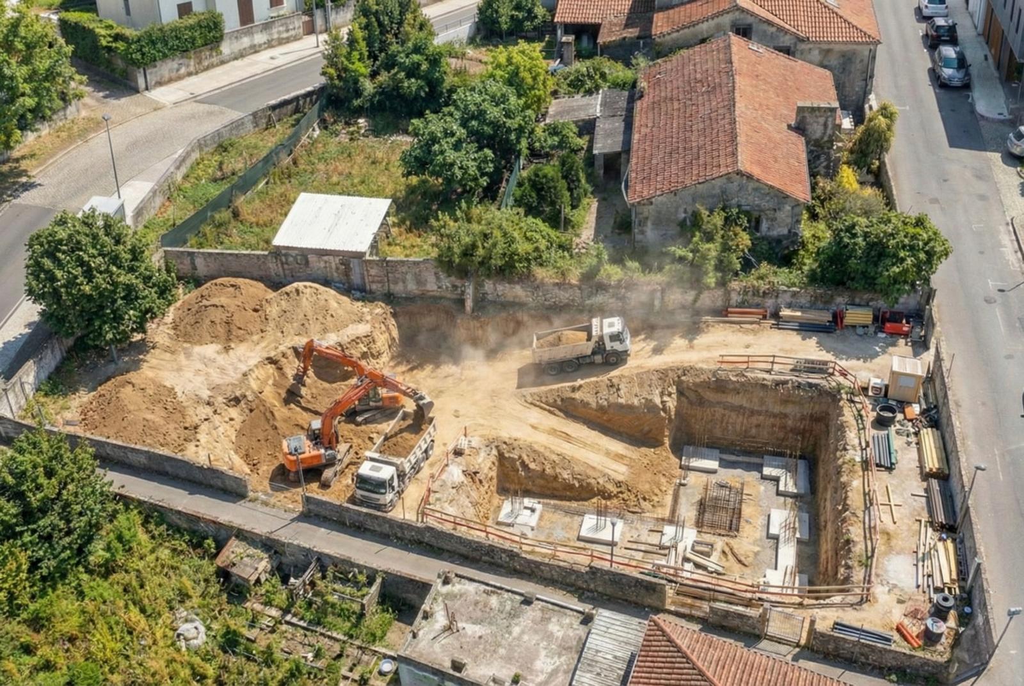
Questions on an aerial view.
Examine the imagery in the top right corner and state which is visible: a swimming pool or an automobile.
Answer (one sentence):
The one visible in the top right corner is an automobile.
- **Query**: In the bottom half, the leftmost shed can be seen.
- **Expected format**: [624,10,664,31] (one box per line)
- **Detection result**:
[217,540,270,597]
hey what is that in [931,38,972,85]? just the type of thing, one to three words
car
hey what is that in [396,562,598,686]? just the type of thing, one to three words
shed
